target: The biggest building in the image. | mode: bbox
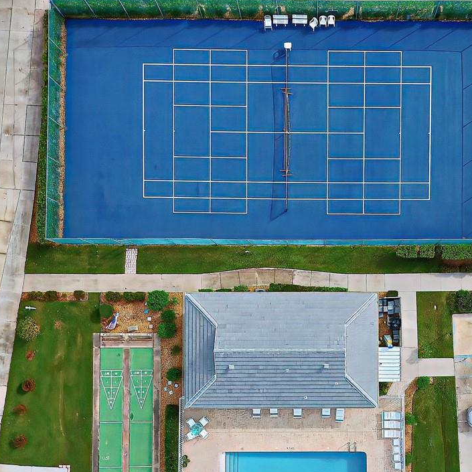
[182,291,380,410]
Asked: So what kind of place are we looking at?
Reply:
sports ground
